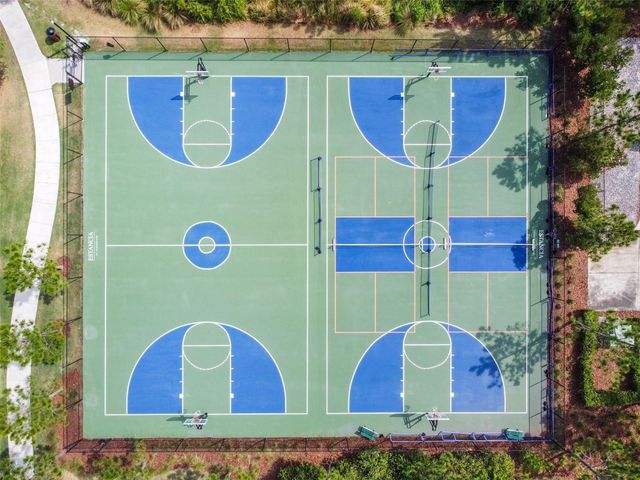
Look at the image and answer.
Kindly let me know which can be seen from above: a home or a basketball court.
basketball court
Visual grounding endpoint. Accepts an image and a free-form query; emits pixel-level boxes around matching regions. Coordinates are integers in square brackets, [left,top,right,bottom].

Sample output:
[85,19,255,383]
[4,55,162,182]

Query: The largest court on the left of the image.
[88,75,308,415]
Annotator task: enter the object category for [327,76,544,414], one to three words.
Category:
basketball court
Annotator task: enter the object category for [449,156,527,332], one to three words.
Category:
sports court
